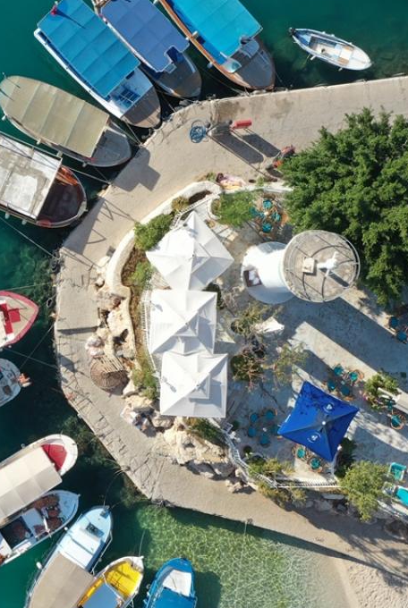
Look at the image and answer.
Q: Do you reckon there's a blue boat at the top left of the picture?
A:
Yes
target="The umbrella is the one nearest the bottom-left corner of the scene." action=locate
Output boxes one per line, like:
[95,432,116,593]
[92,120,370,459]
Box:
[159,350,228,418]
